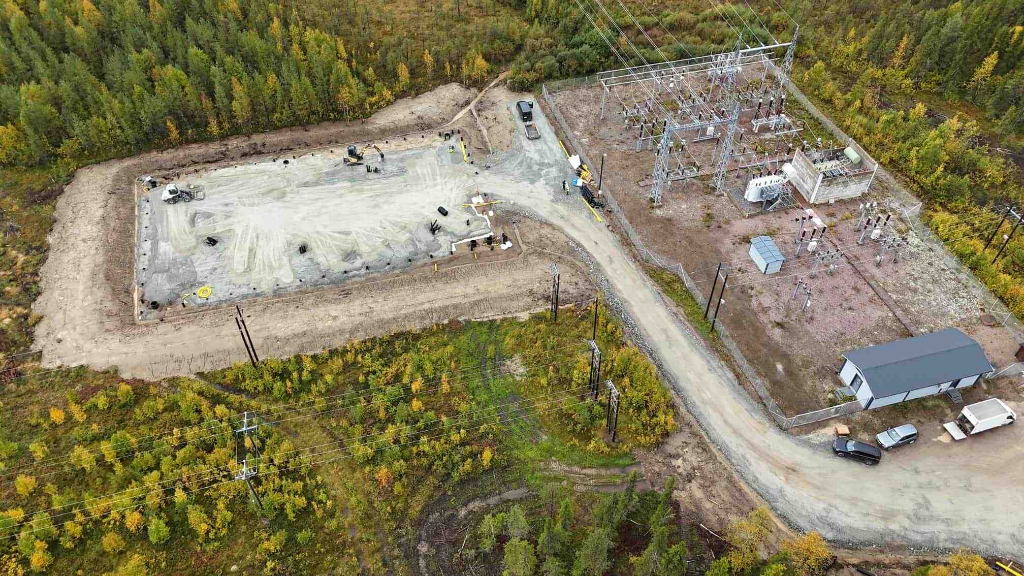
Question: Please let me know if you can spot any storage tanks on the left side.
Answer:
No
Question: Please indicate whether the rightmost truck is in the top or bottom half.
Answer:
bottom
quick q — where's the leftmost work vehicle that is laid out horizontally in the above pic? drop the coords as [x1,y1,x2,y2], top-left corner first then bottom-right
[160,183,207,205]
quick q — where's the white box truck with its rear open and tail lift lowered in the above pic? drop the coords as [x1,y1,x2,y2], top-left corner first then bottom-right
[947,392,1024,434]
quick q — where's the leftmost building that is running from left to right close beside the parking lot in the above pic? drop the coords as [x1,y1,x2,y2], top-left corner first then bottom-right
[834,331,993,415]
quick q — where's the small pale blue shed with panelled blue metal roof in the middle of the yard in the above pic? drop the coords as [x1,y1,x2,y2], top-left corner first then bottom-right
[747,236,787,274]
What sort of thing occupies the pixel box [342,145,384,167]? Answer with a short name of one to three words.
work vehicle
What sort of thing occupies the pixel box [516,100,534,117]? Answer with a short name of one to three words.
car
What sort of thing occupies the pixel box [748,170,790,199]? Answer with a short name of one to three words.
storage tank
